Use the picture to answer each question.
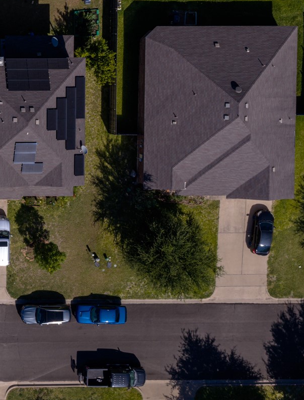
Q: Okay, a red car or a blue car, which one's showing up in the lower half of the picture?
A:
blue car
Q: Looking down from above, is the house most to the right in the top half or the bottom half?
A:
top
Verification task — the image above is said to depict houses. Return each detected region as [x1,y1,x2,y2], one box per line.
[137,25,298,201]
[0,34,90,199]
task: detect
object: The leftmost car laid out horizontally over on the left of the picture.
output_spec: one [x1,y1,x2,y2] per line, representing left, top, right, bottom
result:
[20,304,71,329]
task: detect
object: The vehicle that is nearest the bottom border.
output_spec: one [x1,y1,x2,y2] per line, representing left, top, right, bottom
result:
[85,364,149,390]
